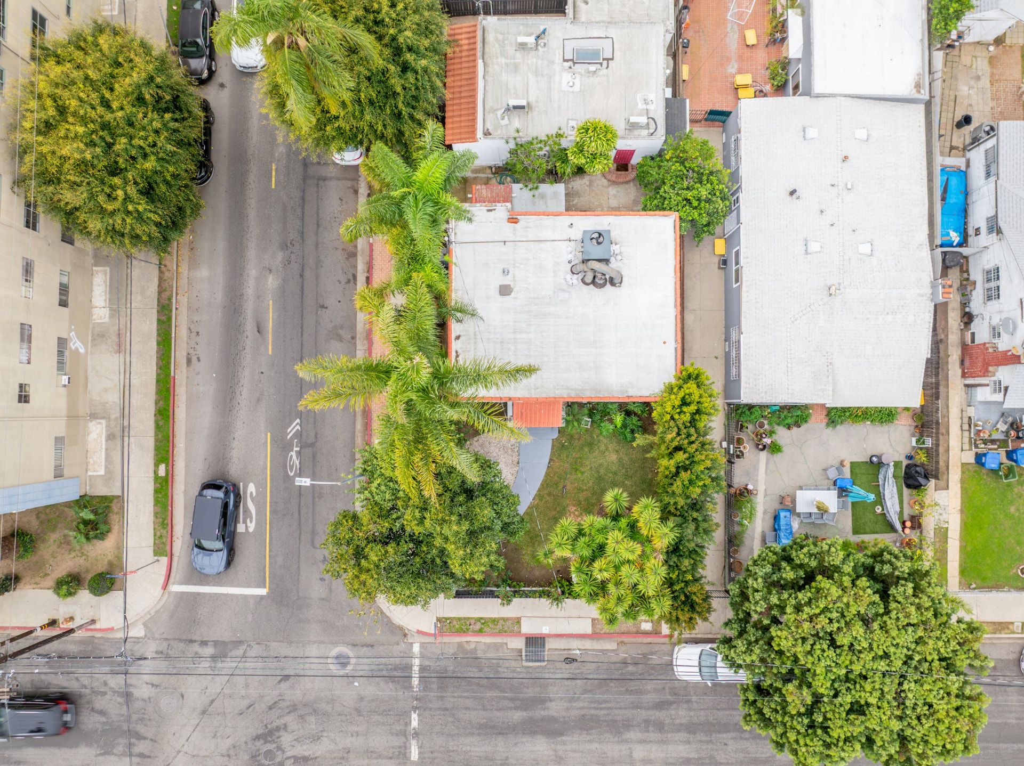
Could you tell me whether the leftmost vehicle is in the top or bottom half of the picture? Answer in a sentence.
You can find the leftmost vehicle in the bottom half.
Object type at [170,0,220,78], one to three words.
car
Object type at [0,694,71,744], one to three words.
vehicle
